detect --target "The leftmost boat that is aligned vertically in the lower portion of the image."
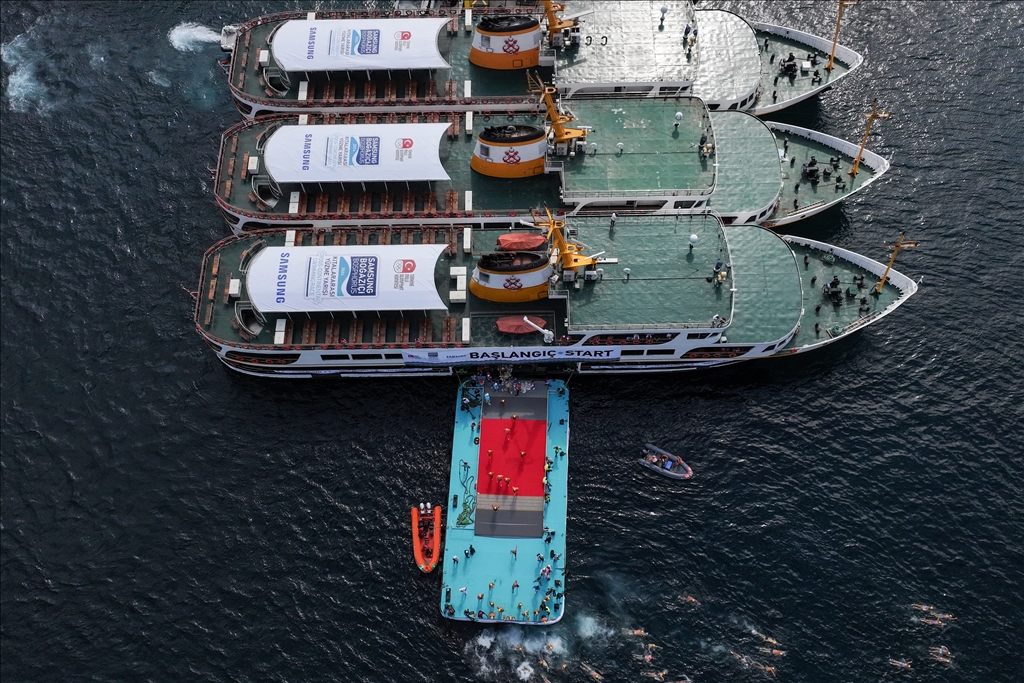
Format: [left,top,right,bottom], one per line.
[412,503,441,574]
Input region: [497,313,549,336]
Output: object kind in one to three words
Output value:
boat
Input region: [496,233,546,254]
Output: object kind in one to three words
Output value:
boat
